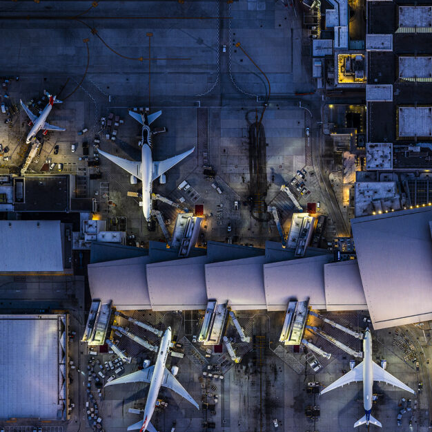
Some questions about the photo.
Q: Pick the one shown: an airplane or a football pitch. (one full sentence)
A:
The image shows an airplane.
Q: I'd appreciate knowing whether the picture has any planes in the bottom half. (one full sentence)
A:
Yes, looking in the bottom half, one can make out a plane.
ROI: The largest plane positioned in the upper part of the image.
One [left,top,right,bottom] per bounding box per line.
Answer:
[97,109,194,221]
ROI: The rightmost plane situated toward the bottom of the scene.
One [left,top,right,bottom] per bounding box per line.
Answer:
[319,327,415,429]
